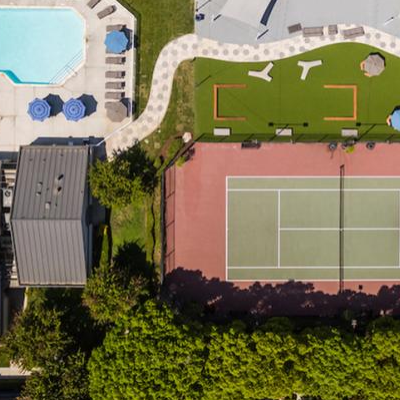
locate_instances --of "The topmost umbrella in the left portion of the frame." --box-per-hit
[106,31,128,54]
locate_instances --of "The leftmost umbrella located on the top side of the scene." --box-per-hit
[29,100,50,120]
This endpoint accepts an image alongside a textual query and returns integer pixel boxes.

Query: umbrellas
[363,54,385,76]
[64,99,86,121]
[106,31,128,54]
[29,100,50,120]
[389,107,400,130]
[106,101,128,122]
